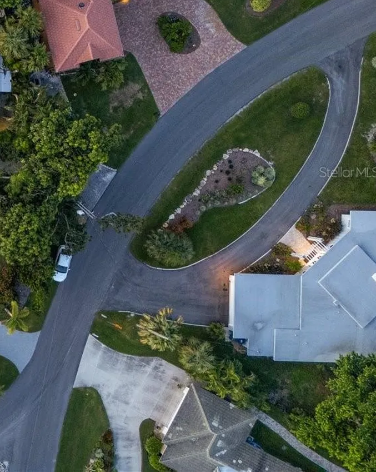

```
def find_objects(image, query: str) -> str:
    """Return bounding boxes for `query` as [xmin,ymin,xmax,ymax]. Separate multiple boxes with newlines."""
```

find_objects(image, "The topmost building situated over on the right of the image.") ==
[224,210,376,364]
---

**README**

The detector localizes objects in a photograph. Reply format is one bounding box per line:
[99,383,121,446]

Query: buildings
[36,0,125,73]
[224,210,376,364]
[155,380,304,472]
